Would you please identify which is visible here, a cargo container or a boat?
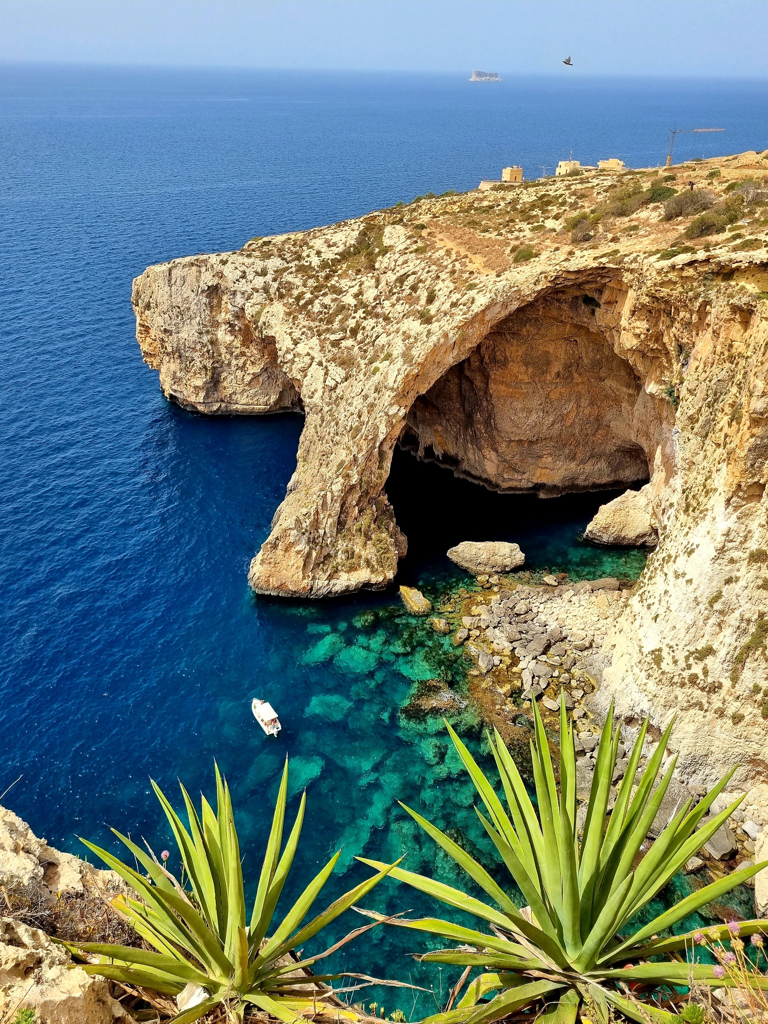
boat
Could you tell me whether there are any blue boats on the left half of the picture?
No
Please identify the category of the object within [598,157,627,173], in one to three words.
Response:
house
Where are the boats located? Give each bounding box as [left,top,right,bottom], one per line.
[253,698,282,740]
